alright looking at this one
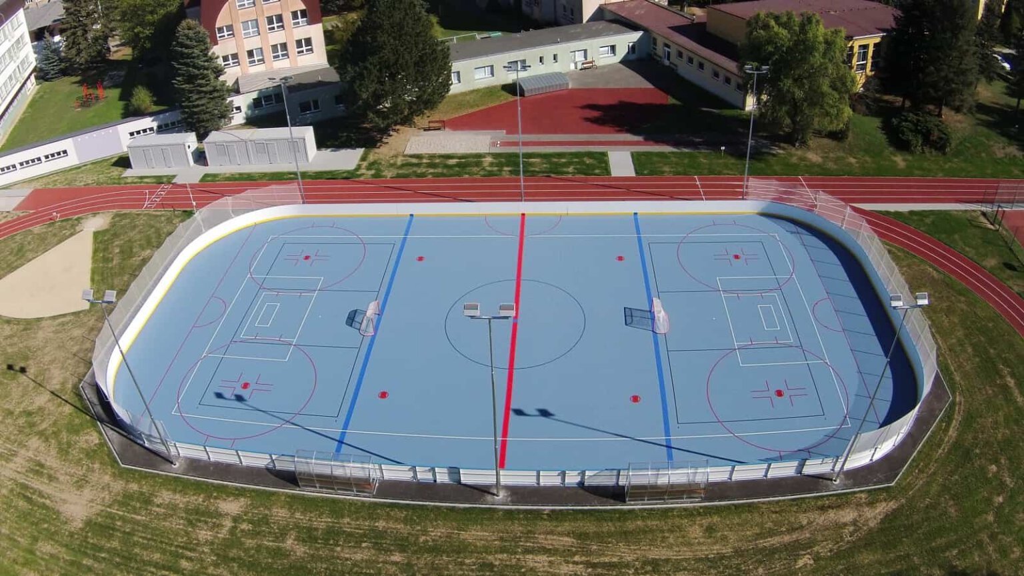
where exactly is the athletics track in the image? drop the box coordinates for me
[0,176,1024,238]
